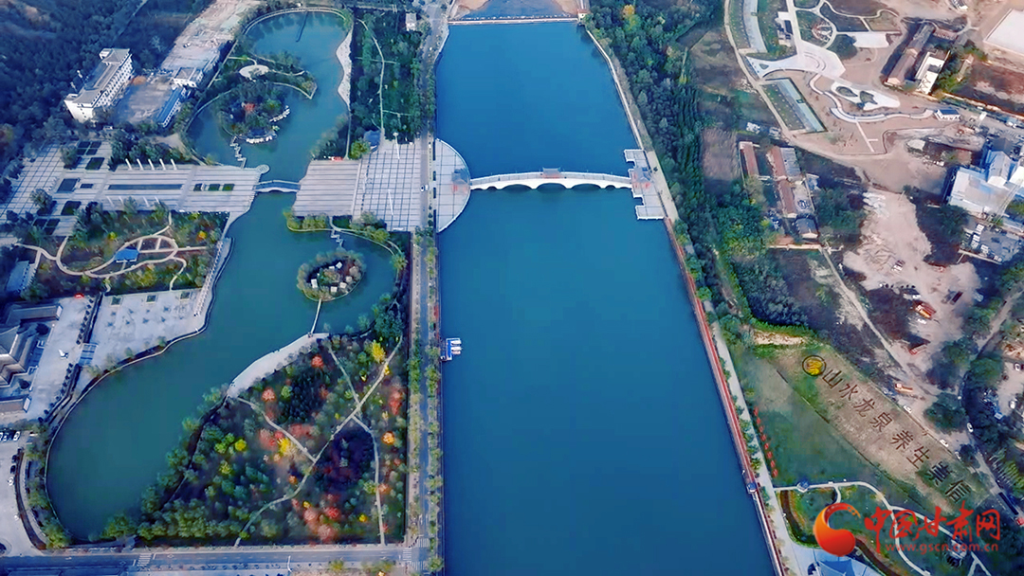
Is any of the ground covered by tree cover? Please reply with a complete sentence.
Yes, some tree cover is visible.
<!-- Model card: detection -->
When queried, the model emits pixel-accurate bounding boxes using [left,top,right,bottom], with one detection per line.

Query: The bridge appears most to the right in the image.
[468,171,633,190]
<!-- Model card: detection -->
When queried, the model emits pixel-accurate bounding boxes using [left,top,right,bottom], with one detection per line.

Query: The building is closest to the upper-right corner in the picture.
[983,5,1024,59]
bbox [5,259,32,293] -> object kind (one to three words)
building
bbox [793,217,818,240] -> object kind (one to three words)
house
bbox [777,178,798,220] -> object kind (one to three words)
barn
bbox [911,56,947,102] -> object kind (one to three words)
building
